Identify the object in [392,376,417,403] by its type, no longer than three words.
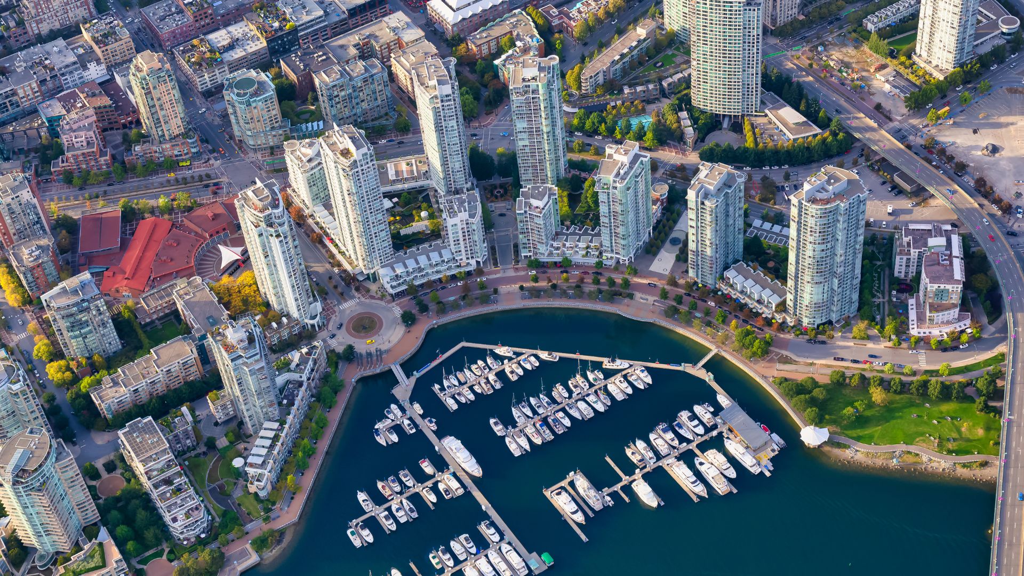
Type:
pier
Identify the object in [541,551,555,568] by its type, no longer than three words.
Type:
vessel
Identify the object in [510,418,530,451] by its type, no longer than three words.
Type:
boat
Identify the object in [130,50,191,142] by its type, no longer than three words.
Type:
building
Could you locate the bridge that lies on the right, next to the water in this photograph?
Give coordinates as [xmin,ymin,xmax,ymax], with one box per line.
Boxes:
[768,40,1024,576]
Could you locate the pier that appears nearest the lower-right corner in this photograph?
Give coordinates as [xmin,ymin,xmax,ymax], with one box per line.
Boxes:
[716,401,780,478]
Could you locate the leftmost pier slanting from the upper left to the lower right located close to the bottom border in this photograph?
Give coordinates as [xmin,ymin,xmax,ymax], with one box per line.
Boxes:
[400,401,537,566]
